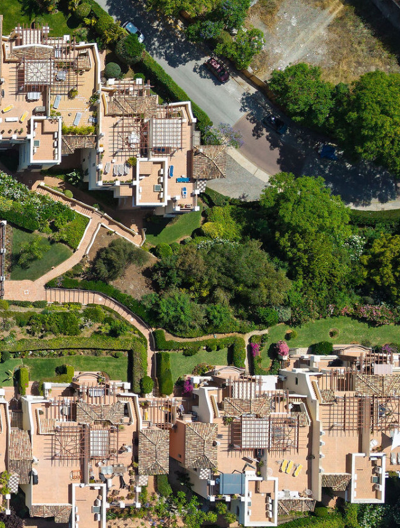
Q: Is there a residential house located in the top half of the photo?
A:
Yes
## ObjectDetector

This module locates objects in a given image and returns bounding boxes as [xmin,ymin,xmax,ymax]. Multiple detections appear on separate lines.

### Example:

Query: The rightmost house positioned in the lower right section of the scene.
[266,344,400,503]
